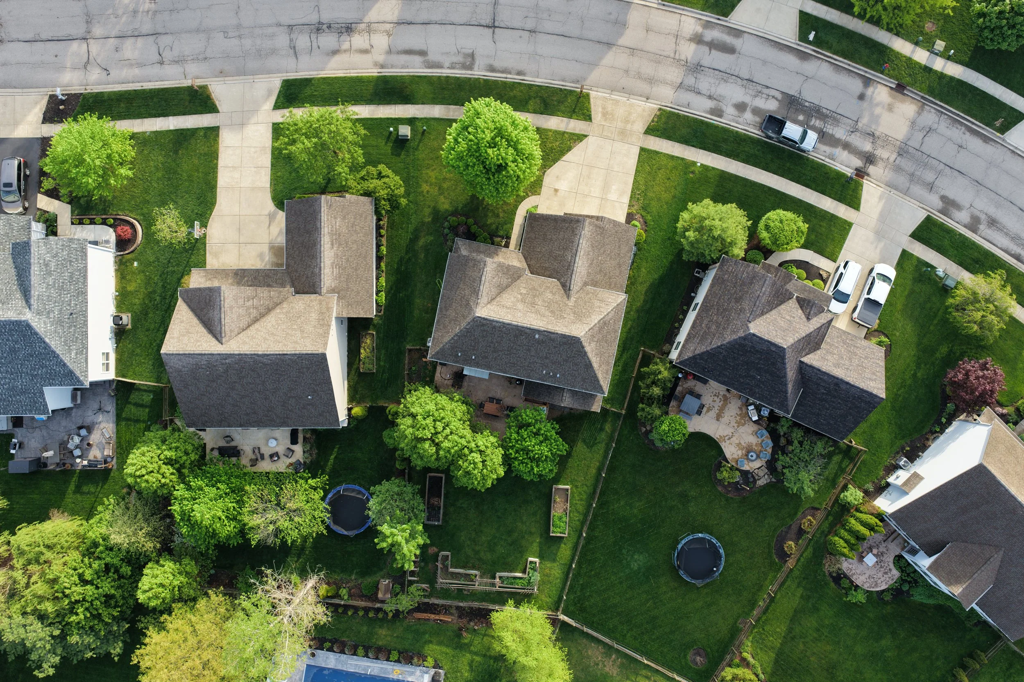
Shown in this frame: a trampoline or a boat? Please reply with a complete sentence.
Looking from above, you can make out a trampoline.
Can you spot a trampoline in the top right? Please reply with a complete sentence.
No, I can find no trampoline in the top right.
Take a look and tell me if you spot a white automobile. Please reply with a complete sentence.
Yes, this view includes a white automobile.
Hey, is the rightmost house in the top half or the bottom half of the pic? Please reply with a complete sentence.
You can find the rightmost house in the bottom half.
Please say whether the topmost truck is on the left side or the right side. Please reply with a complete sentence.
It is on the right.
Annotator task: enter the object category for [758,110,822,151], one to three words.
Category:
truck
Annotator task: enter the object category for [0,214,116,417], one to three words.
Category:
house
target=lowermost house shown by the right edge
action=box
[869,410,1024,642]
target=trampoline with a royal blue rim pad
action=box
[324,489,370,536]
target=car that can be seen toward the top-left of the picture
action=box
[0,154,30,213]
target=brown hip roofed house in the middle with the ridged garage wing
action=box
[427,212,638,413]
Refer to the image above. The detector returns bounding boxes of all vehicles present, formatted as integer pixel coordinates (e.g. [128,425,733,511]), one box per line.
[758,110,822,151]
[828,256,866,316]
[853,262,895,331]
[0,154,30,213]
